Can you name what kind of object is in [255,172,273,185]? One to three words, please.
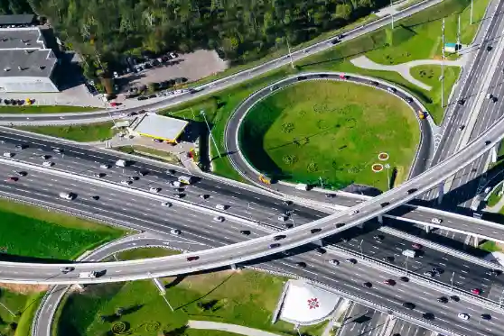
vehicle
